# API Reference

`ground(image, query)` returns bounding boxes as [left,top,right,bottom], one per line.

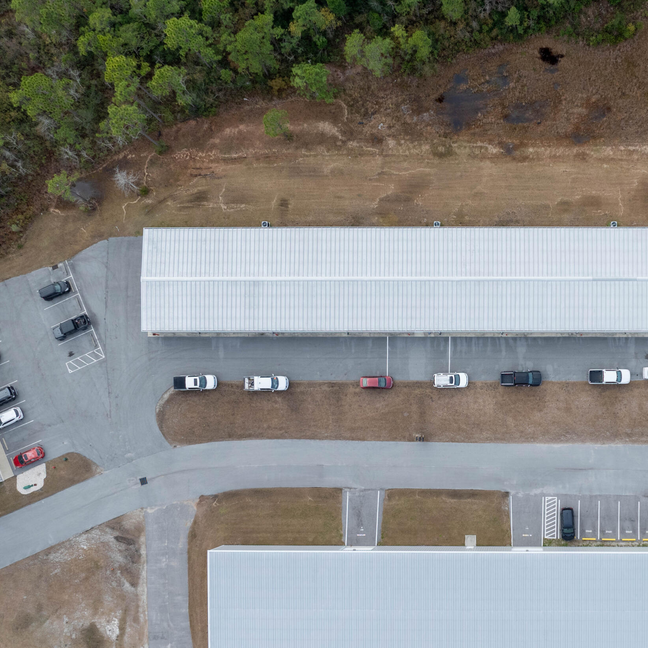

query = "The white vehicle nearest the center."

[244,374,289,392]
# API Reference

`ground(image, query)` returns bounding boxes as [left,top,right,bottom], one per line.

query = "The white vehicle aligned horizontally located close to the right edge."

[588,367,629,385]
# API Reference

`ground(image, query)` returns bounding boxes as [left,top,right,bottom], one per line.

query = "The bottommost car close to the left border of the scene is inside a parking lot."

[14,446,49,469]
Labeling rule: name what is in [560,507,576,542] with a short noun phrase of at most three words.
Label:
car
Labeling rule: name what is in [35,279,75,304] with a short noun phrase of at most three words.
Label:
car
